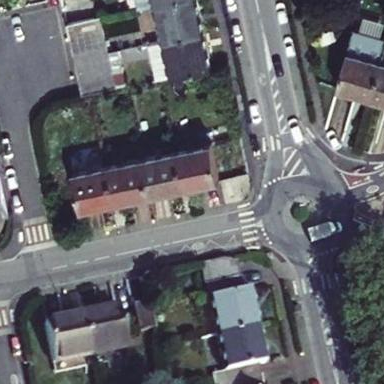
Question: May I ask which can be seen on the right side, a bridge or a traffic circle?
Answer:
traffic circle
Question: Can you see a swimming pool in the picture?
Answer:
No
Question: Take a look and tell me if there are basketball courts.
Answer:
No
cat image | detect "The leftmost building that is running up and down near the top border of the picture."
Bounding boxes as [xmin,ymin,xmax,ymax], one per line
[66,18,114,98]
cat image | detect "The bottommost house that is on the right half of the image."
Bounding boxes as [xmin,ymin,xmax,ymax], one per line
[220,320,270,367]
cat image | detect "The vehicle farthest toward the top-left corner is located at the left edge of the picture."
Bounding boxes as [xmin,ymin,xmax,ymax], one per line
[12,16,24,41]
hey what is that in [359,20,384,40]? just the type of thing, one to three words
shed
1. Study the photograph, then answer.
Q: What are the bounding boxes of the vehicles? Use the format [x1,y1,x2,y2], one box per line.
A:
[354,164,375,175]
[276,2,288,25]
[10,335,22,356]
[272,54,284,77]
[283,36,296,58]
[227,0,238,12]
[244,271,263,281]
[250,134,262,154]
[48,0,58,9]
[12,192,24,214]
[12,16,24,41]
[325,130,341,151]
[232,21,244,42]
[2,138,13,160]
[6,168,18,190]
[118,286,130,310]
[248,102,260,124]
[290,119,302,144]
[308,222,342,241]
